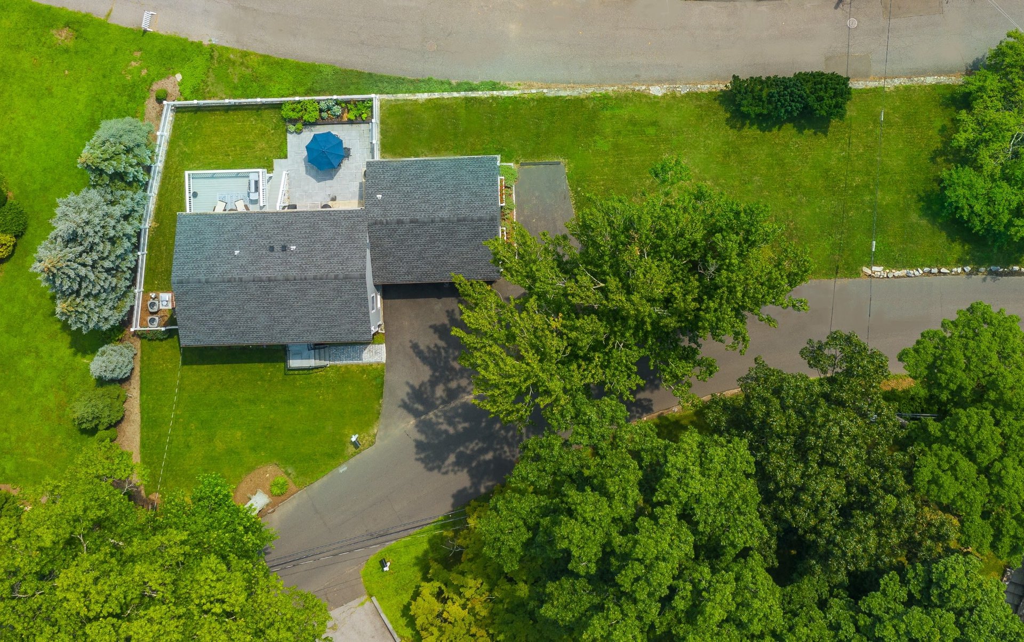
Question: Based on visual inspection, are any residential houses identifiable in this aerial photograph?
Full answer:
Yes, there's a residential house down there.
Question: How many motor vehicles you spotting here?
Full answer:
The picture shows no motor vehicles.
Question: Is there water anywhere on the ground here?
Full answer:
No, the scene doesn't show any water.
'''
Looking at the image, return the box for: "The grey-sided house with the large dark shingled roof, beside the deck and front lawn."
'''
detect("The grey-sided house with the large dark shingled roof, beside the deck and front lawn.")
[170,208,387,347]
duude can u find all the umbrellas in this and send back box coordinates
[305,132,345,172]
